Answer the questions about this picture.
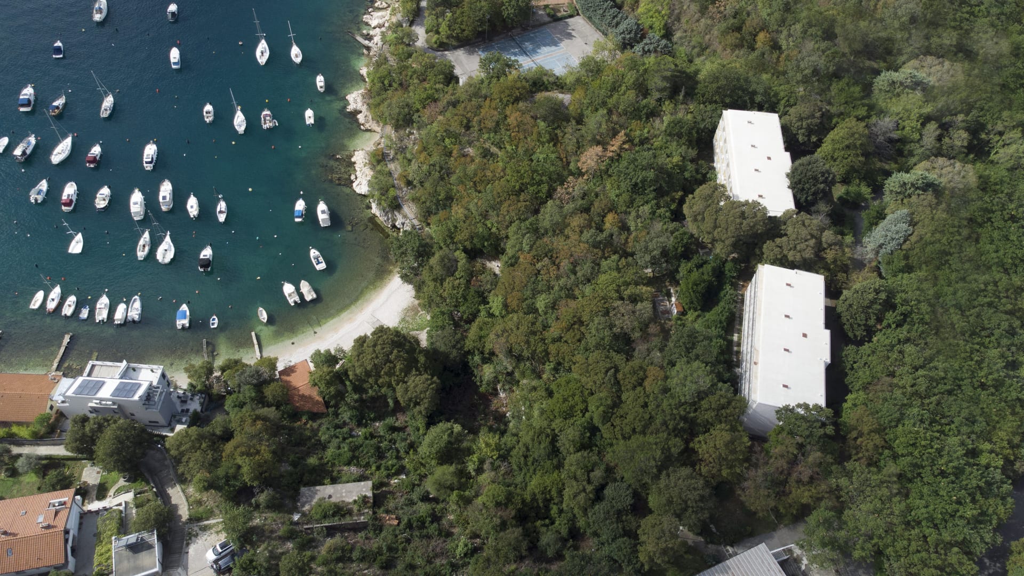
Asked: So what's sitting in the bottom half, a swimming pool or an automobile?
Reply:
automobile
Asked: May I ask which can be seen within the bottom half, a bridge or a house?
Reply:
house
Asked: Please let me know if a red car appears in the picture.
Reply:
No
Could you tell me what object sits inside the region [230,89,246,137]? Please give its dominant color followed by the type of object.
white boat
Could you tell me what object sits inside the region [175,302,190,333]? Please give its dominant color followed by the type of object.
white boat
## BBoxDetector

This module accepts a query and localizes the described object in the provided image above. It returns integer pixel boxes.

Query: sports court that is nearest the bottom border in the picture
[446,17,603,85]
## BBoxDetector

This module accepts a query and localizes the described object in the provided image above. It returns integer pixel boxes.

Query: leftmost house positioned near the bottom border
[0,489,91,576]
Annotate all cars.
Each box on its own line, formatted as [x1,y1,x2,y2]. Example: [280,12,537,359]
[206,535,239,558]
[211,546,239,571]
